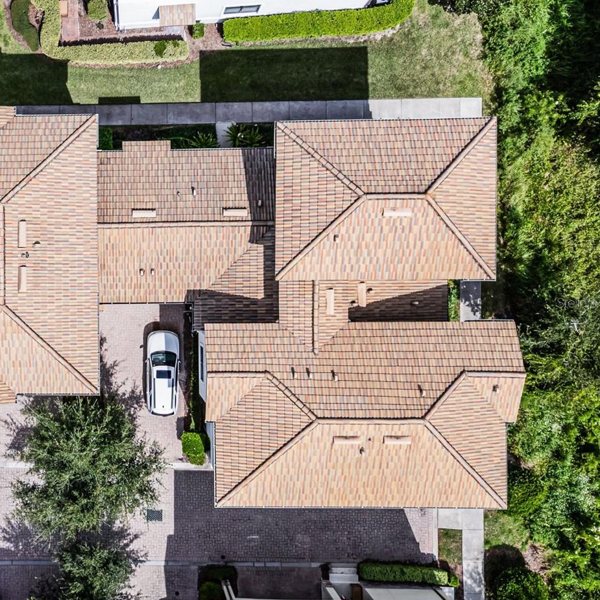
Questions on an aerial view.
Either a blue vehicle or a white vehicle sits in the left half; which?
white vehicle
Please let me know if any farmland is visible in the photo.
No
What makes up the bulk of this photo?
buildings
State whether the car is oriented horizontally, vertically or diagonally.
vertically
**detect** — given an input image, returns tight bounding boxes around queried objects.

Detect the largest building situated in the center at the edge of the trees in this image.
[101,117,526,510]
